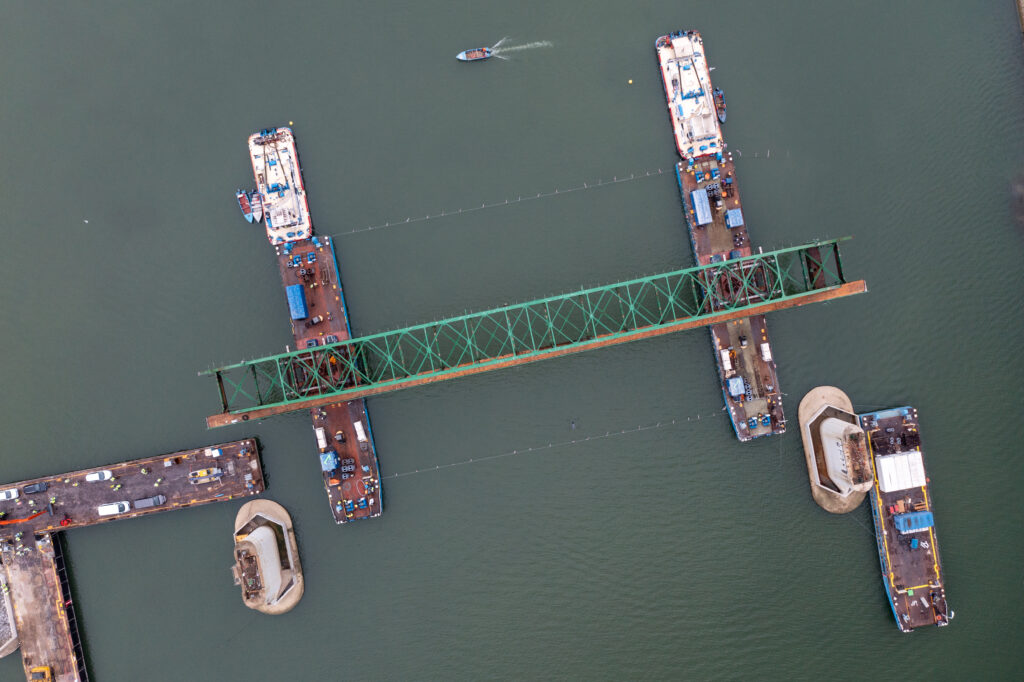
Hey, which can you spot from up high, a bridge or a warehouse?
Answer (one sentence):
Looking from above, you can make out a bridge.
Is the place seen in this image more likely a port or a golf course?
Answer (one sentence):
This image shows a port.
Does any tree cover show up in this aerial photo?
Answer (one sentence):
No, there is no tree cover in the image.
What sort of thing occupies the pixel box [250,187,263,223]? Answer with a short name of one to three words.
boat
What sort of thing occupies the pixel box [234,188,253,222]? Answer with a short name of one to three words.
boat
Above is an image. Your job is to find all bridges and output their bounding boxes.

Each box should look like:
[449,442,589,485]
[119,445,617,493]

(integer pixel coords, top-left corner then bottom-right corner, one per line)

[197,234,868,430]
